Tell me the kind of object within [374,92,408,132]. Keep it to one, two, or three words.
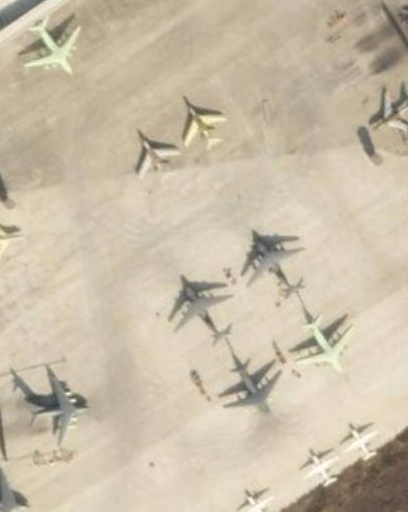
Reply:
airplane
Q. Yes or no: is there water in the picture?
No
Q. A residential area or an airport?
airport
